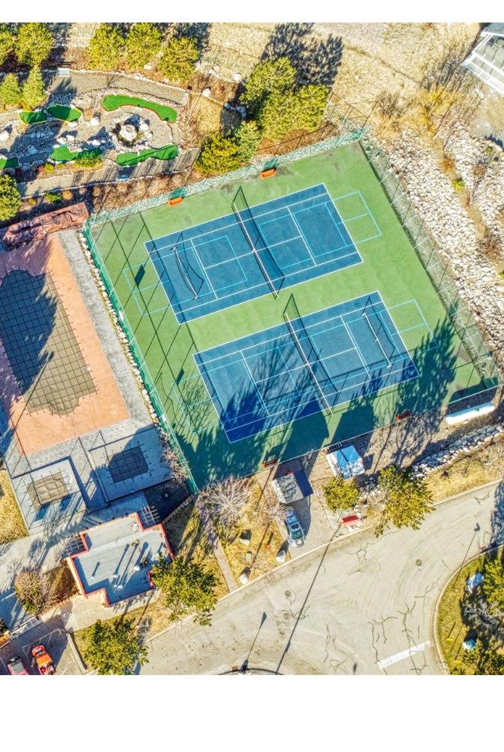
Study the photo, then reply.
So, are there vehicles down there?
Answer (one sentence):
Yes, a vehicle appears in the view.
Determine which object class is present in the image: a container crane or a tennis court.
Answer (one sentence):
There is a tennis court in the scene.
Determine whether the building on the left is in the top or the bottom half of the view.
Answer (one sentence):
The building on the left is in the bottom half of the image.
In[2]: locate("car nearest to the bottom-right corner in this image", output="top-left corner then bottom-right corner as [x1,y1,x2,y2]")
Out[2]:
[277,506,308,554]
